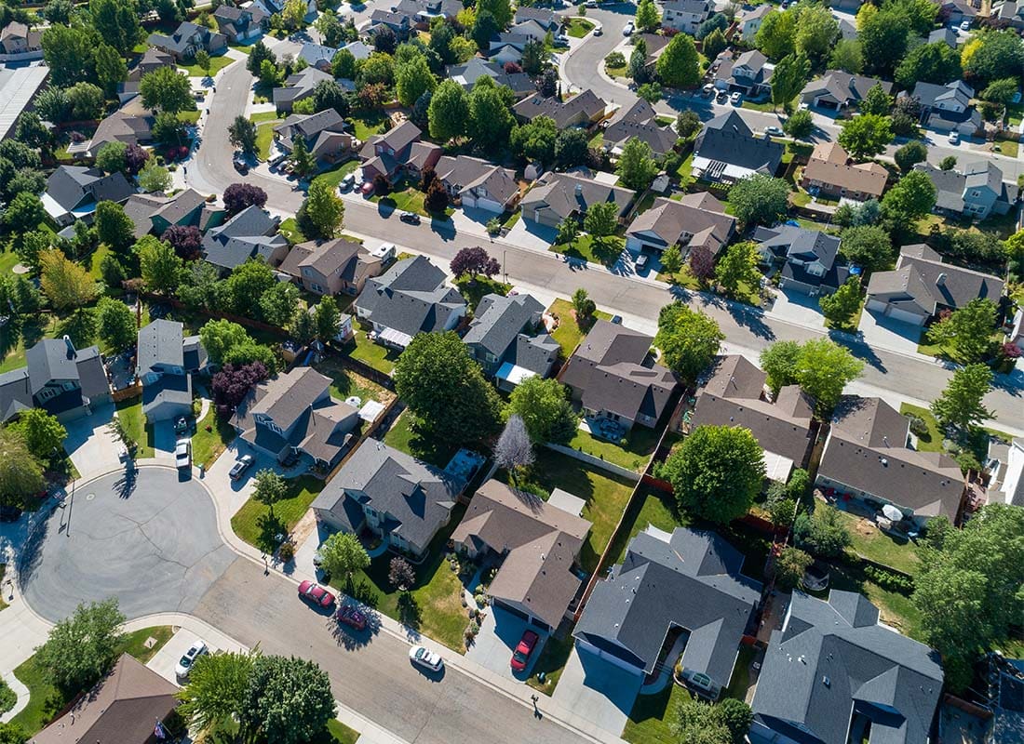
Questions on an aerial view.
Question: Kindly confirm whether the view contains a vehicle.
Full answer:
Yes, you can see a vehicle in this photo.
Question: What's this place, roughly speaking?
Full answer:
The area seen from above is a residential area.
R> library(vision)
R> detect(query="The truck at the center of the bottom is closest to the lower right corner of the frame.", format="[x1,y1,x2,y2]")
[508,627,543,676]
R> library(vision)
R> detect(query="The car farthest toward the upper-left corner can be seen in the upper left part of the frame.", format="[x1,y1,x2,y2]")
[193,89,205,101]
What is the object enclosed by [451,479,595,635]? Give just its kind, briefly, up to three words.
house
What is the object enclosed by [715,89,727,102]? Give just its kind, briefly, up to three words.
vehicle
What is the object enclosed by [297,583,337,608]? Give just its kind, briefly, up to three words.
car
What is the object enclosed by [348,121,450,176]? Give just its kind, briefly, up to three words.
house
